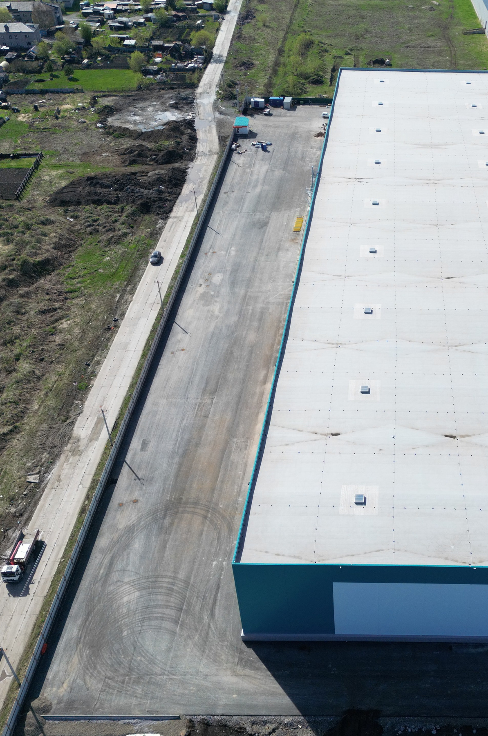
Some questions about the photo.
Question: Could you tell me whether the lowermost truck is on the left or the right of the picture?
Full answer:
You can find the lowermost truck on the left side of the picture.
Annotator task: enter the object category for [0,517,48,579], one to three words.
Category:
truck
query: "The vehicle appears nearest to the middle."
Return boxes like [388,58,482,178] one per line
[150,245,165,261]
